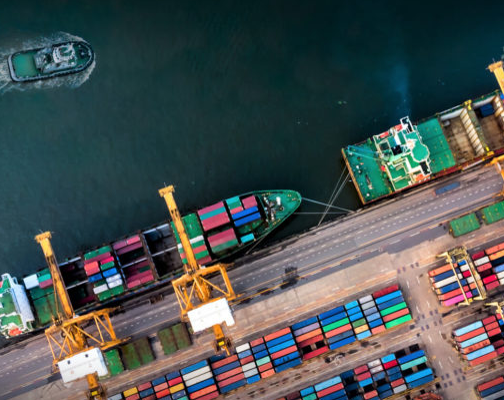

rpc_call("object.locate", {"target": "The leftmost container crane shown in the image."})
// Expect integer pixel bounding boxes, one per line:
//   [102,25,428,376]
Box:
[35,229,140,400]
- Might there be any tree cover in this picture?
No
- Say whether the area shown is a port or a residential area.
port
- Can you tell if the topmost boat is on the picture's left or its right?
left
